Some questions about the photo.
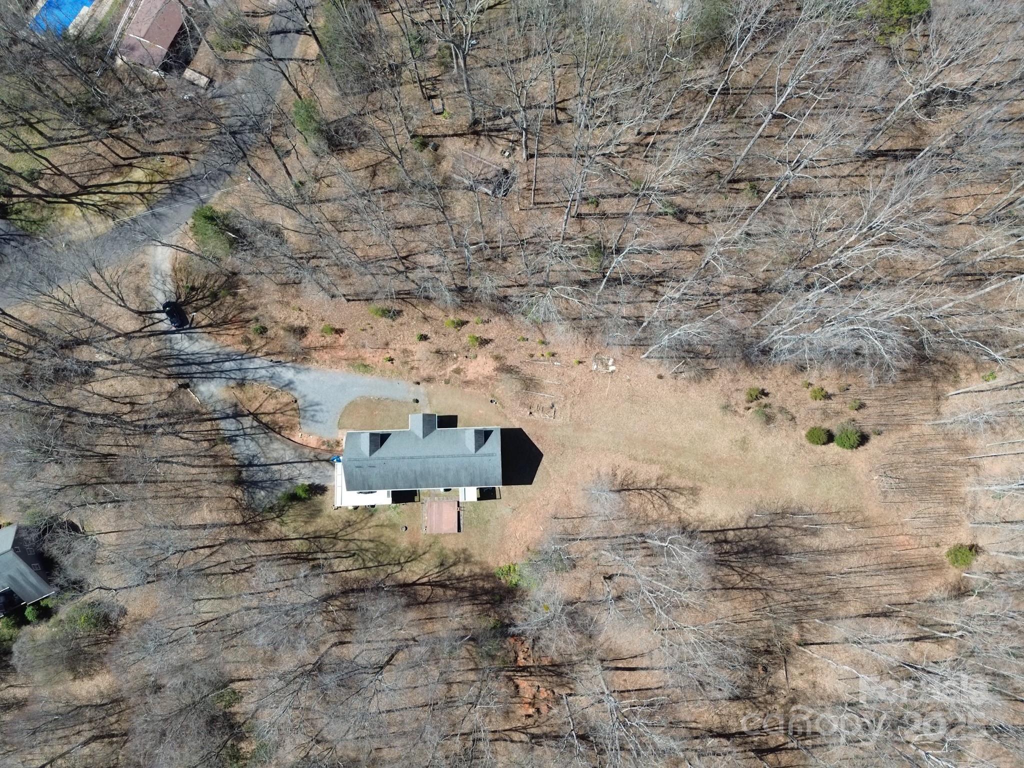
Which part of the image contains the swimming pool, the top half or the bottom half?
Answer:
top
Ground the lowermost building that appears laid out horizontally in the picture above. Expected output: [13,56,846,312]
[343,413,503,492]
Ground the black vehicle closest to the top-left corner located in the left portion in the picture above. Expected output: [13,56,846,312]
[161,299,180,327]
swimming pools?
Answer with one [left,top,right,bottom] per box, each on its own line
[23,0,107,48]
